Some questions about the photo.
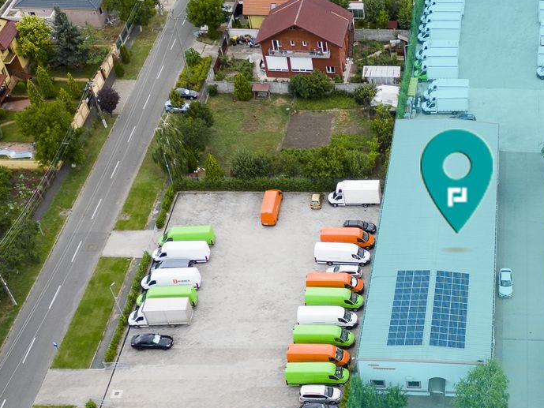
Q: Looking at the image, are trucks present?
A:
Yes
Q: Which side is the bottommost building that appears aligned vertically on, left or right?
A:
right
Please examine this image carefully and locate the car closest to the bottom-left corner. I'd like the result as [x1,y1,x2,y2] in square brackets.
[131,334,174,351]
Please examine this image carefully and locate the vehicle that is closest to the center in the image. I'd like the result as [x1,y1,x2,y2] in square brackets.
[261,192,283,227]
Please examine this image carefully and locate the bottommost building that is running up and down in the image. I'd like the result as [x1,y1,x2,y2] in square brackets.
[357,116,500,392]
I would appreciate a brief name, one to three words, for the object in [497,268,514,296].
car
